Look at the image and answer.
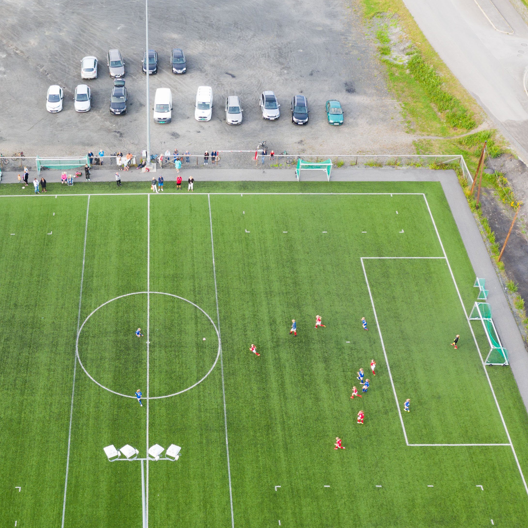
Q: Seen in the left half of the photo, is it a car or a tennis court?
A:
car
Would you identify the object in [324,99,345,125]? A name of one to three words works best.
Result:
car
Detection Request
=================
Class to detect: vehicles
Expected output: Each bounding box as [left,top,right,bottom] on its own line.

[259,89,280,120]
[80,57,98,80]
[153,86,173,123]
[324,99,345,125]
[73,85,92,112]
[170,47,187,74]
[193,85,213,121]
[141,47,159,74]
[45,86,63,113]
[291,94,310,125]
[108,50,125,78]
[225,95,244,125]
[109,76,128,115]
